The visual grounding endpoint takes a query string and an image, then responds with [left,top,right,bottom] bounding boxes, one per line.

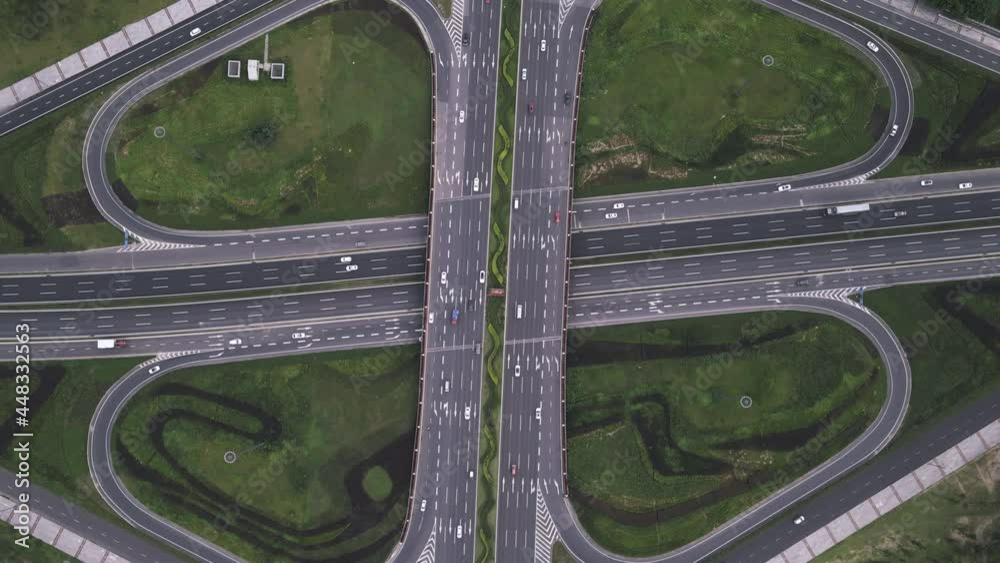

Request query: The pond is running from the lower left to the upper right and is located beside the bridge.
[341,429,416,532]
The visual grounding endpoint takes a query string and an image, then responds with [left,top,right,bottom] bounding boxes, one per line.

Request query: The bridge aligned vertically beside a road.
[399,8,595,563]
